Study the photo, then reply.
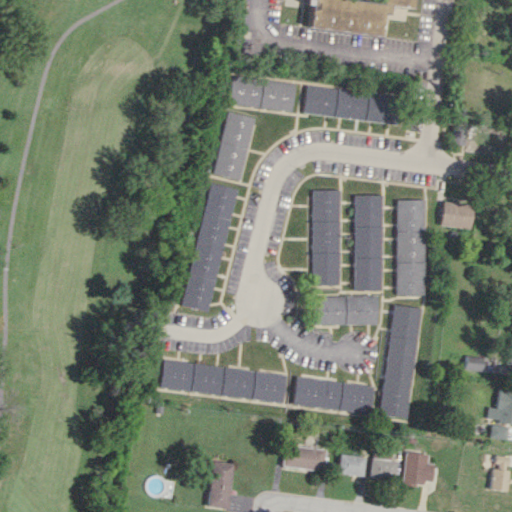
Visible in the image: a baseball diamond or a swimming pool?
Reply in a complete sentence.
I can see a swimming pool in this picture.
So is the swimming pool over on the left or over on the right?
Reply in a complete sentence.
The swimming pool appears in the left half of the scene.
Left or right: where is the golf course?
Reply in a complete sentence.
The golf course is on the left side of the image.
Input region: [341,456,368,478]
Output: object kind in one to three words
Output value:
house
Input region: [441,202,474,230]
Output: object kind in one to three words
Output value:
house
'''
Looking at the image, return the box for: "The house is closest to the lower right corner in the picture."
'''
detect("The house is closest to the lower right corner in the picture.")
[490,468,510,494]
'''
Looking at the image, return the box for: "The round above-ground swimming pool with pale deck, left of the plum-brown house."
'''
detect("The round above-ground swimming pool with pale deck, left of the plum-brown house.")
[144,476,176,500]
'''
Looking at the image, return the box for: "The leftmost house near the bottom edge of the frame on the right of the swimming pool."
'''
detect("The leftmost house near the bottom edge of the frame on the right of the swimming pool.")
[206,460,234,508]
